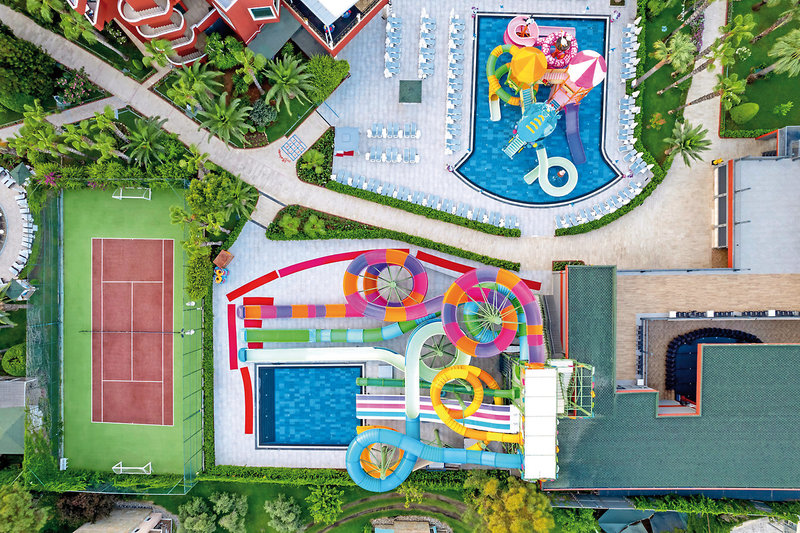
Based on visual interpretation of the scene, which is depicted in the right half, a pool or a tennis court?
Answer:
pool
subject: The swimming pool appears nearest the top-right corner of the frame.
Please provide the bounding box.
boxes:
[454,13,623,206]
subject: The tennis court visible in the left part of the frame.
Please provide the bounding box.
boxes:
[64,187,204,471]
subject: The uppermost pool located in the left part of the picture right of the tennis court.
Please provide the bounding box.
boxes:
[255,363,363,448]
